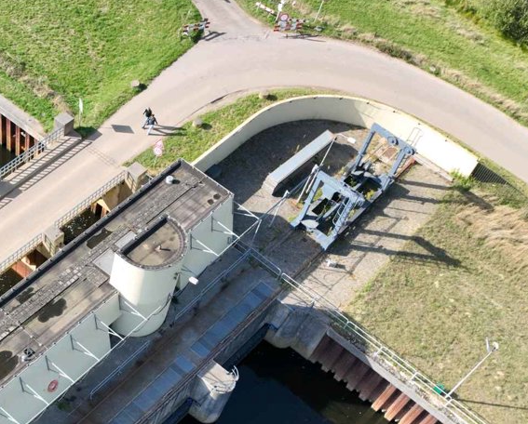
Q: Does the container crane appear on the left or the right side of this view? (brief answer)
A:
right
